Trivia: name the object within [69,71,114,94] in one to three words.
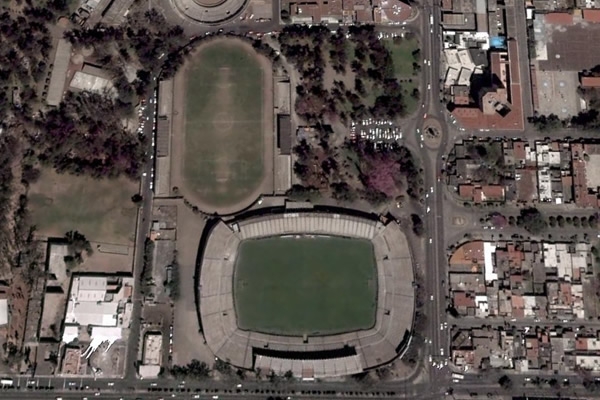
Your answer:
building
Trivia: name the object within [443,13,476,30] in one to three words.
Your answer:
house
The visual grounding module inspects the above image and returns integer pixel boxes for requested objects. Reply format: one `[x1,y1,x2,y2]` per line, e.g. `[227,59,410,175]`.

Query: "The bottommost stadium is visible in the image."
[198,202,417,380]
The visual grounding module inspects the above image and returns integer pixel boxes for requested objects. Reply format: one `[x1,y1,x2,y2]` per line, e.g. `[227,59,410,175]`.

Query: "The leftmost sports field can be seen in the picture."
[30,170,138,246]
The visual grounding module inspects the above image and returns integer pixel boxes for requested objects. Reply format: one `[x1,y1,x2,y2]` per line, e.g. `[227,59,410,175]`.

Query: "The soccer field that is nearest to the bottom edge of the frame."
[234,237,376,335]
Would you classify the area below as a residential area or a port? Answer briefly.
residential area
